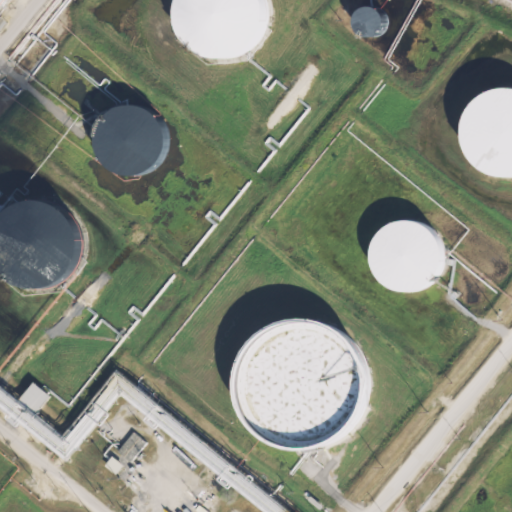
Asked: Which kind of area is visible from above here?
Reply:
industrial area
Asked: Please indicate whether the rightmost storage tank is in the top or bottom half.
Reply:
top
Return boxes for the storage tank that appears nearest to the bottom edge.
[228,317,374,454]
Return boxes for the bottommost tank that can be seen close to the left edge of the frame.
[0,199,84,290]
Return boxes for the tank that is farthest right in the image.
[458,85,512,180]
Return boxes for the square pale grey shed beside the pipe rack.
[20,382,53,412]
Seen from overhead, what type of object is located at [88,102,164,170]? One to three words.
storage tank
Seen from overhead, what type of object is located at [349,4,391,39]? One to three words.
storage tank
